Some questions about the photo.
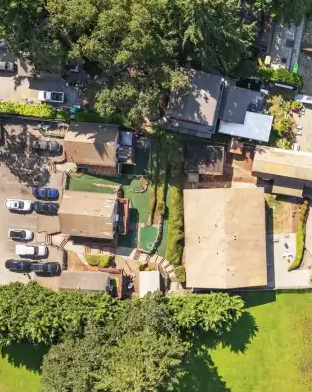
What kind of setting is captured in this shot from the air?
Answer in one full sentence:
The area seen from above is a residential area.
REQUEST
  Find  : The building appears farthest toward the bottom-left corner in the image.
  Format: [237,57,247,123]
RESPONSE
[59,270,112,294]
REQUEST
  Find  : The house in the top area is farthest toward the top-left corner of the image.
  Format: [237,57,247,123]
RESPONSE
[63,122,121,166]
